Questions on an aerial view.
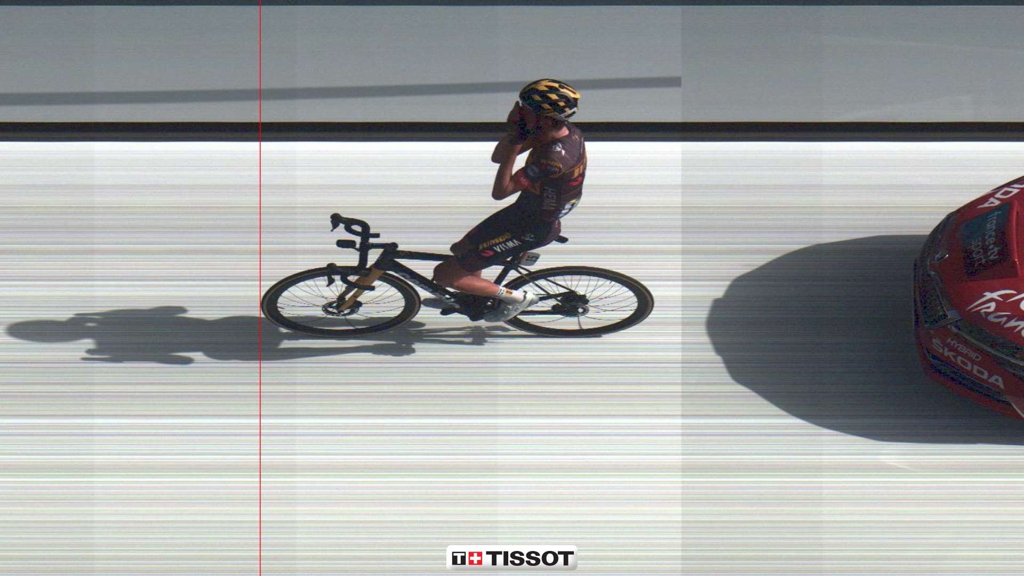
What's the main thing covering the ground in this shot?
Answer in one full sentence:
What you mostly see from above here is paved ground.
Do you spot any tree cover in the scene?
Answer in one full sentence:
No, there is no tree cover in the image.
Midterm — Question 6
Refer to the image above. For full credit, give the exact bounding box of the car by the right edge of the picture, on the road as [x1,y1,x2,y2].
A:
[911,165,1024,420]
